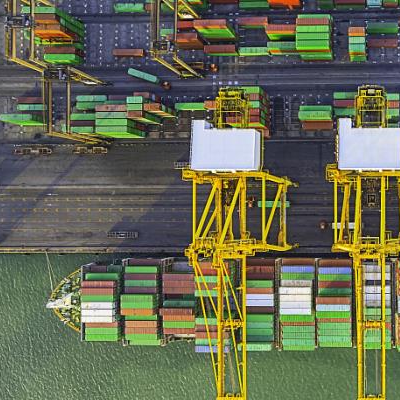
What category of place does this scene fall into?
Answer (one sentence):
What you see here is a port.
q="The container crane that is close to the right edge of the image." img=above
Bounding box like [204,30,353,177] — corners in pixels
[319,82,400,400]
